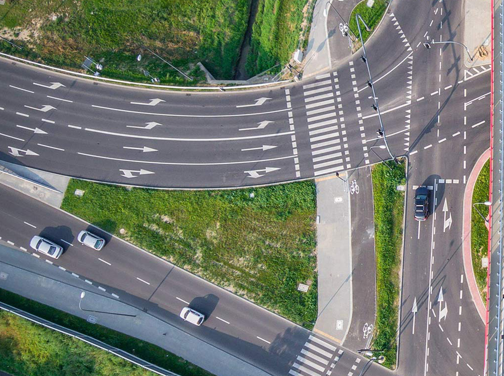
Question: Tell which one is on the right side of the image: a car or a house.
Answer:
car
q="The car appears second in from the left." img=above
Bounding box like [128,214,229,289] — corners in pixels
[78,232,107,250]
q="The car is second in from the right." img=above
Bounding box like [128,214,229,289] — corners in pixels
[180,307,207,327]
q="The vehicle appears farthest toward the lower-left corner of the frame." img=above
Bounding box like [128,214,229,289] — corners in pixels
[30,236,65,260]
